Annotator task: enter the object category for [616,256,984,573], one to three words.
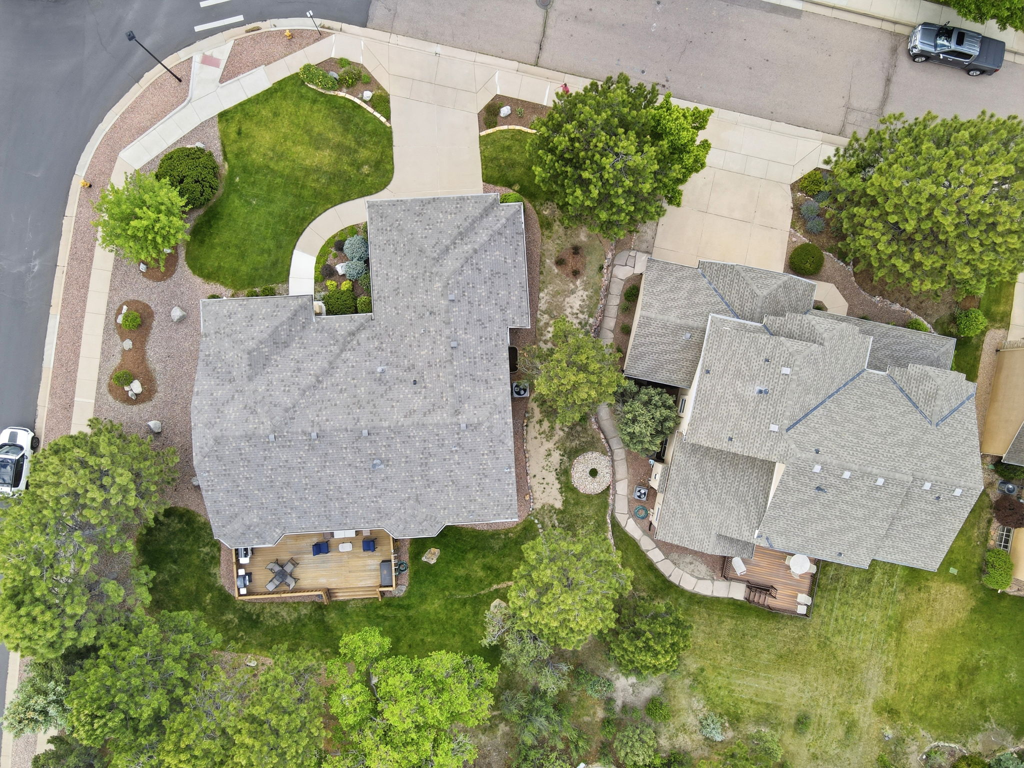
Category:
house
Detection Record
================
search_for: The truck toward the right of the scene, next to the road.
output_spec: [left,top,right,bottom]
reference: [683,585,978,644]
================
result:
[900,20,1002,80]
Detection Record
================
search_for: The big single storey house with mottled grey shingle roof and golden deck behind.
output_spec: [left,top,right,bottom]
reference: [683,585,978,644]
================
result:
[190,191,532,551]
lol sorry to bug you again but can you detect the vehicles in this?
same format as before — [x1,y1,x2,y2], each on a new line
[900,20,1002,80]
[0,425,41,498]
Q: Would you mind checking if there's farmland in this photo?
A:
No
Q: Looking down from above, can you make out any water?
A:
No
